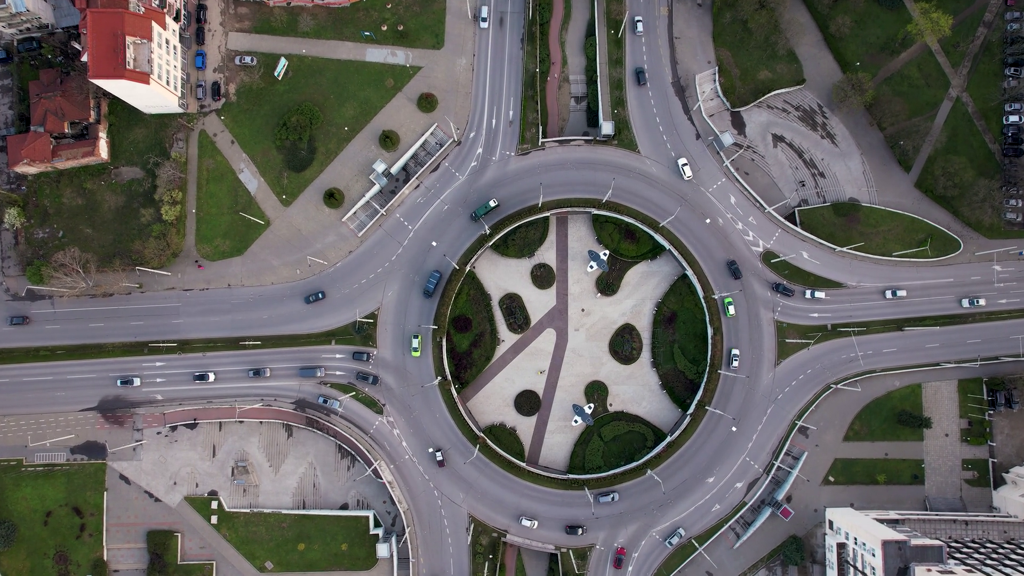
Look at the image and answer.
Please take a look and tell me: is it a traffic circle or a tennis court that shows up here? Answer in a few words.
traffic circle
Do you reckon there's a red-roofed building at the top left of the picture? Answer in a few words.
Yes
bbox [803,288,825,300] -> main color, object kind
white vehicle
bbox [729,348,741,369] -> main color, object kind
white vehicle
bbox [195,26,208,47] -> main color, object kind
black vehicle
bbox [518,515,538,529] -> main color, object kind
white car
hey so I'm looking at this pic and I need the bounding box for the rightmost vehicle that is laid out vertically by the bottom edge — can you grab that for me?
[613,545,626,570]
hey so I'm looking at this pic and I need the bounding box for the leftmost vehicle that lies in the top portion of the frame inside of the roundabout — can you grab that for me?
[470,198,499,222]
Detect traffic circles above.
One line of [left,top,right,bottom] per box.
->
[379,149,776,547]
